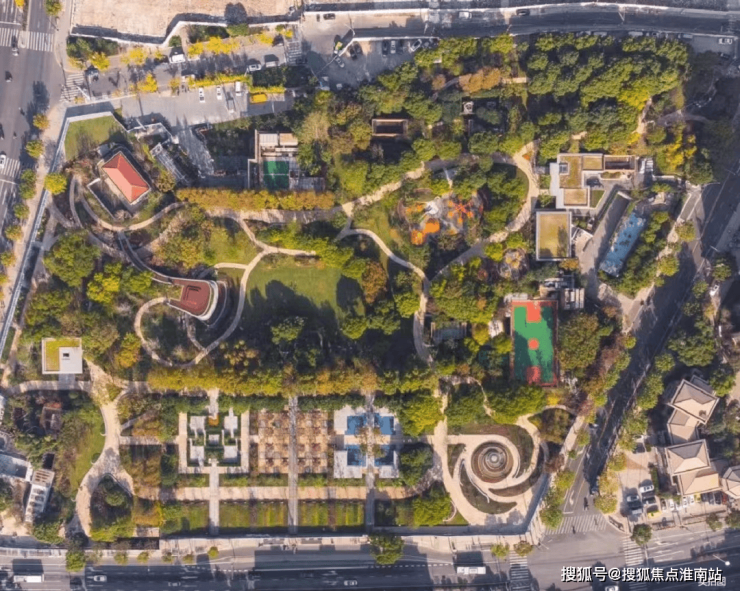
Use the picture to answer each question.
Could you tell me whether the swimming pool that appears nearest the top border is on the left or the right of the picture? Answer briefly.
right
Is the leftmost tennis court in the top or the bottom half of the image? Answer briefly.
top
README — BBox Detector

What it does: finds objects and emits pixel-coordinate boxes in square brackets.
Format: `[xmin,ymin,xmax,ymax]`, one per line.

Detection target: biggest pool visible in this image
[598,210,648,277]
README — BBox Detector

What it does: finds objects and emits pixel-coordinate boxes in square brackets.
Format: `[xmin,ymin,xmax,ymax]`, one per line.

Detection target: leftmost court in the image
[262,160,289,191]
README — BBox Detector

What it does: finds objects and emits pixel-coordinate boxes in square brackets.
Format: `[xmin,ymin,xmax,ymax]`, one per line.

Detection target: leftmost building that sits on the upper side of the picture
[98,152,154,213]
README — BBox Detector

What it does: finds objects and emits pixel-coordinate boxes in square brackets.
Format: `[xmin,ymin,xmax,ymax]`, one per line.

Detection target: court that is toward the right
[512,301,558,387]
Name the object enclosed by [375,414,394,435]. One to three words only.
swimming pool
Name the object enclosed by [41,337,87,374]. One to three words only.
house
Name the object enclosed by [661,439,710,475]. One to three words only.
house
